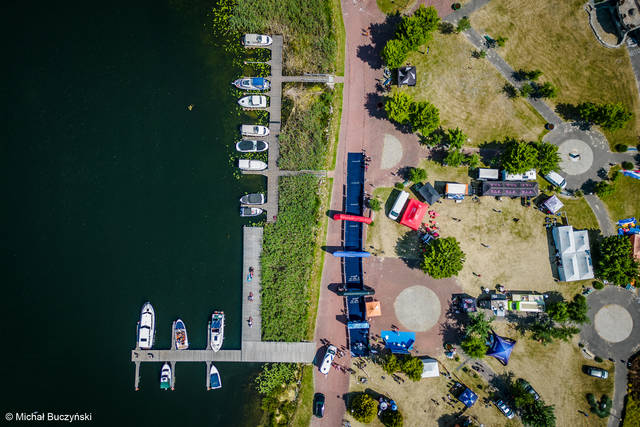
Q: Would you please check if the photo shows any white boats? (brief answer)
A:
Yes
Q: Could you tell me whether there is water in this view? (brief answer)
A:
Yes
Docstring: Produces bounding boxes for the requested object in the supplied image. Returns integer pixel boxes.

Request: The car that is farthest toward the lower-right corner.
[586,365,609,380]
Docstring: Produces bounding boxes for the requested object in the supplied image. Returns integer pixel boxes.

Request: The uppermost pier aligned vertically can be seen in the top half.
[241,35,282,221]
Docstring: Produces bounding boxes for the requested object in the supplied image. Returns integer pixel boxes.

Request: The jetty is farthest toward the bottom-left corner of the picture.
[132,319,242,390]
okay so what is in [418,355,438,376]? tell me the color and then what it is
white gazebo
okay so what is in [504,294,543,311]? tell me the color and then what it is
white vehicle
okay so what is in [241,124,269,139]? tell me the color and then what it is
white boat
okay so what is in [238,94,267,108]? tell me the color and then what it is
white boat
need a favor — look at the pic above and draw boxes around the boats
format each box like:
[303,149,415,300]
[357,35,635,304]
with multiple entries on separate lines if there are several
[238,94,267,108]
[136,303,157,352]
[159,362,171,392]
[209,364,222,391]
[240,193,264,207]
[210,311,228,352]
[172,319,189,351]
[234,76,272,92]
[238,159,268,171]
[241,124,269,139]
[238,206,262,216]
[242,33,272,49]
[236,138,268,154]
